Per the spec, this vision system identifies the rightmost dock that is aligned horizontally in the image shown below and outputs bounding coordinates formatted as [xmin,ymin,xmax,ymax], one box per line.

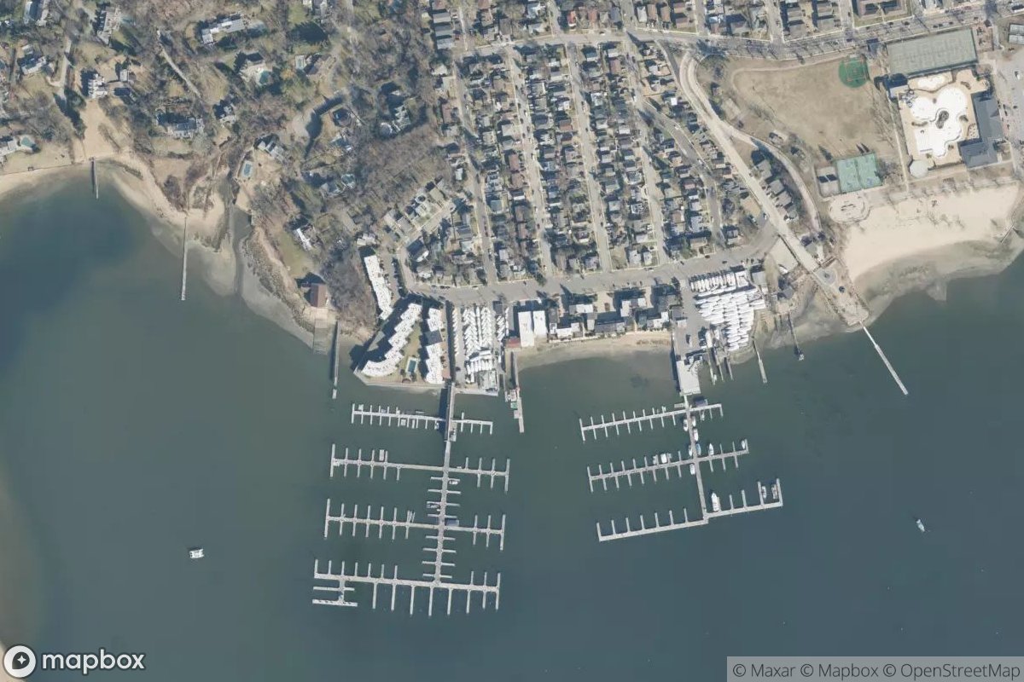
[706,478,783,517]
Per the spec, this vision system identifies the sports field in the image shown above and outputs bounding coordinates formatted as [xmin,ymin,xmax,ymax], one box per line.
[722,49,901,162]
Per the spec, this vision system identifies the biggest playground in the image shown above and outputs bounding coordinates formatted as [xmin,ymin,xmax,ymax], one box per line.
[827,192,869,223]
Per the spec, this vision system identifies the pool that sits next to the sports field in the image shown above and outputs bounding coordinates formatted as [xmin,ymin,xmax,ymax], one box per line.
[897,69,989,170]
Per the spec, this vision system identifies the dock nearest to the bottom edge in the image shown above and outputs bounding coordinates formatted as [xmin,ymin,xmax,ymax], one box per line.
[313,559,500,616]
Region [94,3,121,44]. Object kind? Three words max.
house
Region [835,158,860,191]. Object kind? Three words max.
tennis court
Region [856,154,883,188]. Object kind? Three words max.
tennis court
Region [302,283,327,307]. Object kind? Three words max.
building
